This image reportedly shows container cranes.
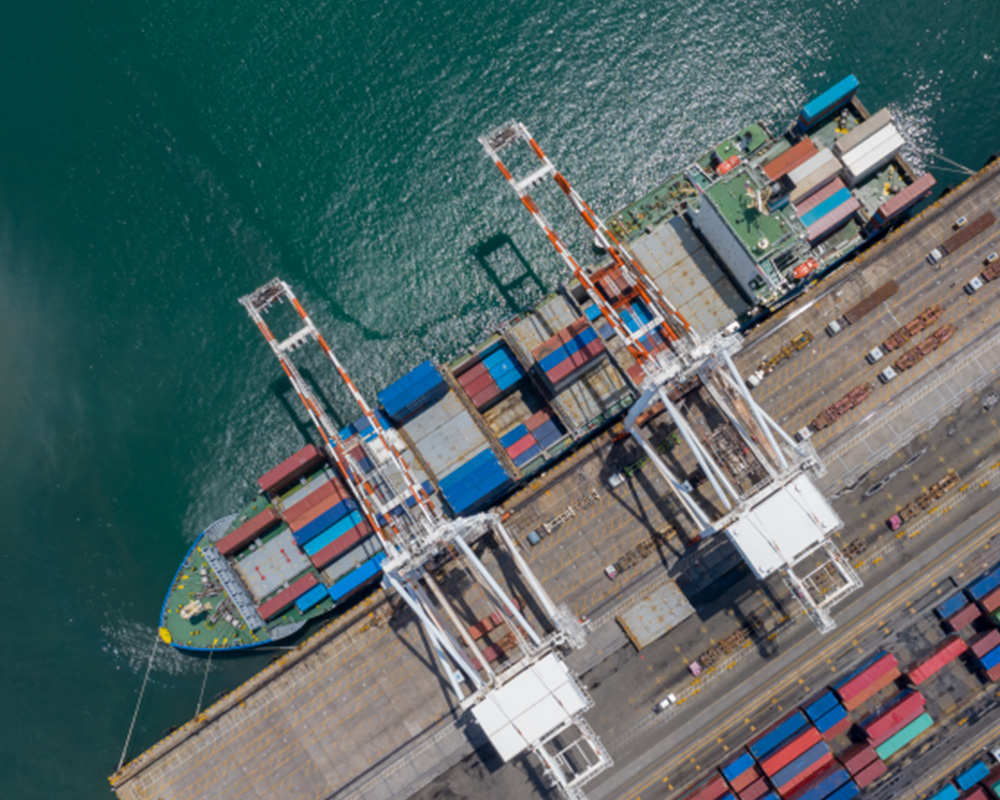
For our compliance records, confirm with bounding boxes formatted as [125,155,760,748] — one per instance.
[238,274,618,800]
[474,112,870,636]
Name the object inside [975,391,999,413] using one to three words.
car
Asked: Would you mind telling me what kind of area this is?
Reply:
port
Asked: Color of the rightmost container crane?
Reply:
white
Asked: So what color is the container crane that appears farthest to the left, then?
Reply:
white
